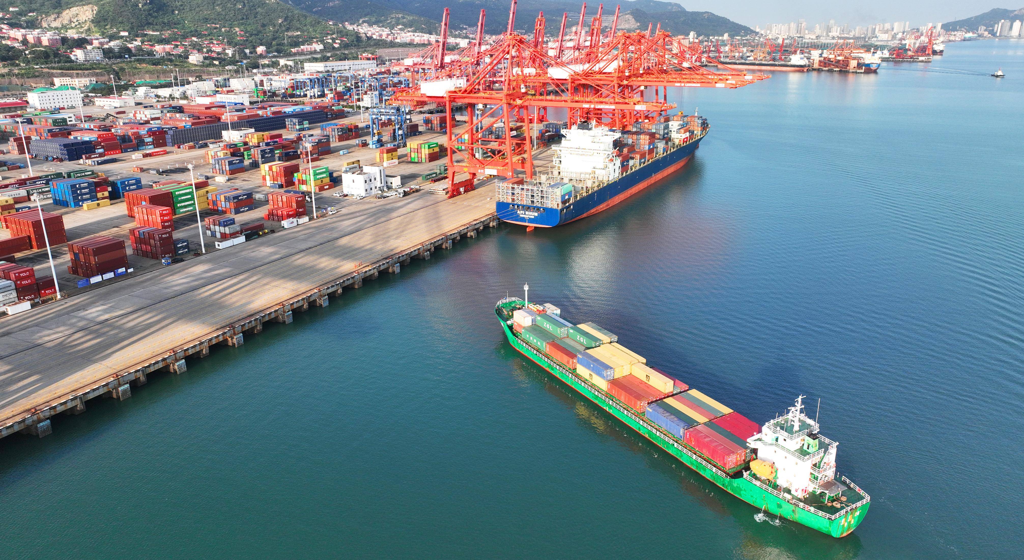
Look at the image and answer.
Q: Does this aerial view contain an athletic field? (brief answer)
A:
No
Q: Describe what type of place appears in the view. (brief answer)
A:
port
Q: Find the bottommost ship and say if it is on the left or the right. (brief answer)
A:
right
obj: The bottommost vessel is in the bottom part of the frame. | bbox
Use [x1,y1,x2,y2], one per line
[495,282,874,540]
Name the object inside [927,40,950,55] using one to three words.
ship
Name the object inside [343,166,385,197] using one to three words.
building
